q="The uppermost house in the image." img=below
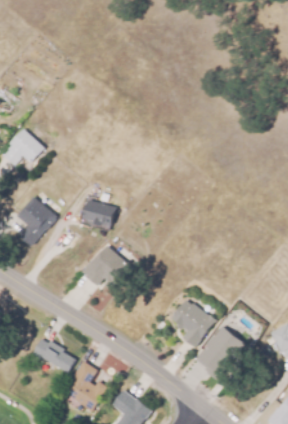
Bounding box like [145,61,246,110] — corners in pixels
[2,129,44,166]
